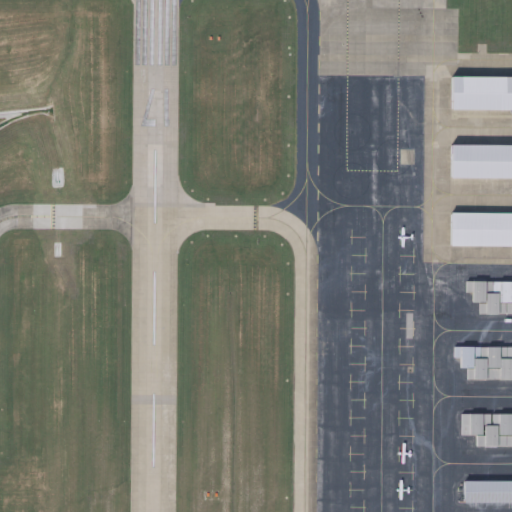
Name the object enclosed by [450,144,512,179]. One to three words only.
hangar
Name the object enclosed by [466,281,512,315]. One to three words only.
hangar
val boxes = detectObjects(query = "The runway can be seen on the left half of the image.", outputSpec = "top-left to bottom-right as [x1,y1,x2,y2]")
[131,0,180,512]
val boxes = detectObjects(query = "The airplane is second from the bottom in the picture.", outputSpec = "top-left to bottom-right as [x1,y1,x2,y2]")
[398,443,414,464]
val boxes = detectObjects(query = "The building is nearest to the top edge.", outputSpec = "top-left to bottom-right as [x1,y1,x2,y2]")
[451,76,512,110]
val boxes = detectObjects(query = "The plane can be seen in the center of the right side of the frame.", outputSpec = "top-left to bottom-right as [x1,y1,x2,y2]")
[398,227,414,248]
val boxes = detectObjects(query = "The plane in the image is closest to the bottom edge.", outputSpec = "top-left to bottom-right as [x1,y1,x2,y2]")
[396,480,412,500]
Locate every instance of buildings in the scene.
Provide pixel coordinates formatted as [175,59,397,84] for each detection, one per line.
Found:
[450,212,512,247]
[466,281,512,315]
[451,76,512,110]
[450,144,512,179]
[454,346,512,380]
[461,414,512,448]
[464,480,512,504]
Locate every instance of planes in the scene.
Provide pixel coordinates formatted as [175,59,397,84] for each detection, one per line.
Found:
[396,480,412,500]
[398,443,414,464]
[398,227,414,248]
